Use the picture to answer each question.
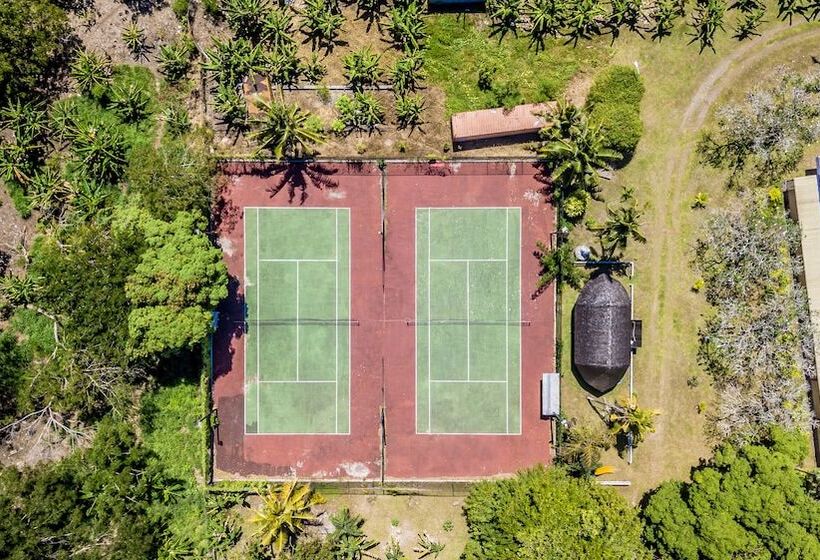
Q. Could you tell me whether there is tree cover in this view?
Yes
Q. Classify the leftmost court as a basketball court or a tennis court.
tennis court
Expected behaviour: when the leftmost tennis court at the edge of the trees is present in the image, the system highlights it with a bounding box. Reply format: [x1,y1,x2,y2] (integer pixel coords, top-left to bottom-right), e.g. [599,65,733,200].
[213,162,383,481]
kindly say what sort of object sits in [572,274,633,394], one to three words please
shed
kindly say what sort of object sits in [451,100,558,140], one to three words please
shed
